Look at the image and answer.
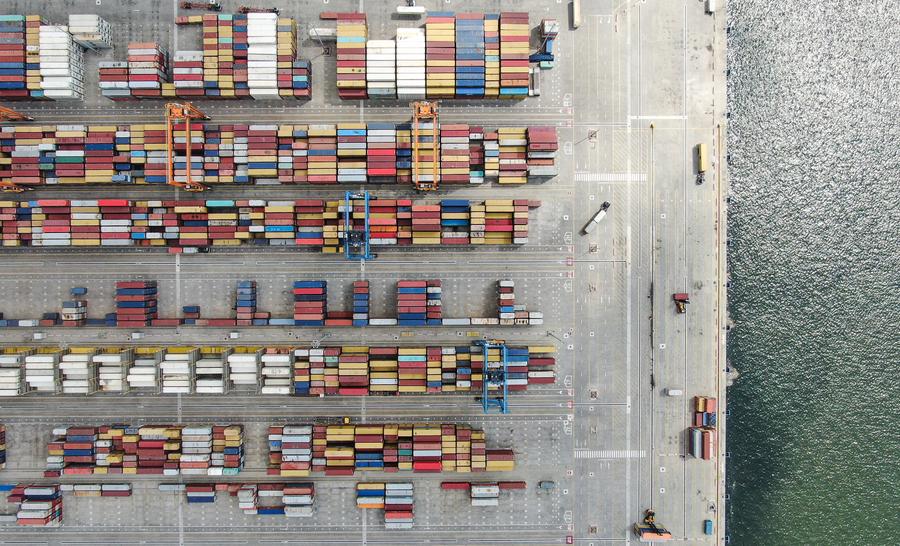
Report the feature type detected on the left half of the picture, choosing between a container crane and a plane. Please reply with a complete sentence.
What appears on the left half of the picture is a container crane.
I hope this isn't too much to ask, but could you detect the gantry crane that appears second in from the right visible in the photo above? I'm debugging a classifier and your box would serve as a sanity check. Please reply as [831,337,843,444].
[411,99,442,191]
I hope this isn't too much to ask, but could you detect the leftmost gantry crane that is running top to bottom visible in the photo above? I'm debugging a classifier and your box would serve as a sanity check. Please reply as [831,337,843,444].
[0,101,33,192]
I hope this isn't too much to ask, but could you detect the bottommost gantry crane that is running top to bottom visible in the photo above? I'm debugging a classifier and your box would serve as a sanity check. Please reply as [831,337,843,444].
[476,339,508,413]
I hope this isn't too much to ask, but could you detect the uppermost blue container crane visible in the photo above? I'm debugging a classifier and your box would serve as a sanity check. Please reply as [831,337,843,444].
[345,187,378,259]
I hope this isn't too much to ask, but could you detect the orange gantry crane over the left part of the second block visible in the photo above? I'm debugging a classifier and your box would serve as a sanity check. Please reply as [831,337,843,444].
[163,100,211,192]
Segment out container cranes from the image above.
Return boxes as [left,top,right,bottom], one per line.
[163,100,211,192]
[476,339,508,413]
[0,101,33,192]
[411,99,442,191]
[345,187,378,259]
